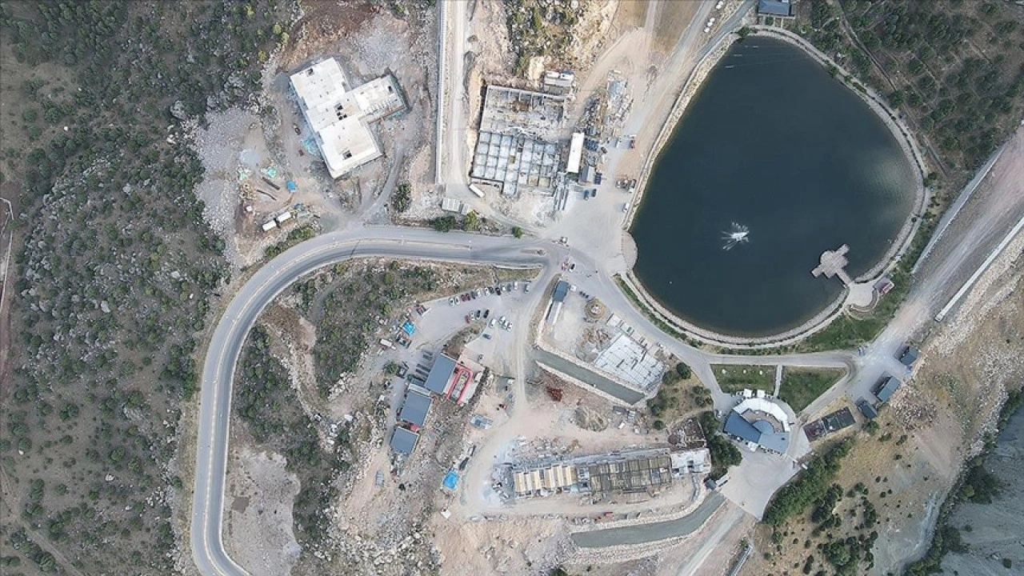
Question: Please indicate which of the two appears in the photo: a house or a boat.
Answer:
house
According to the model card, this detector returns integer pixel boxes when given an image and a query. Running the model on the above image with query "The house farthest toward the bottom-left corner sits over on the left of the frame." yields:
[389,427,419,454]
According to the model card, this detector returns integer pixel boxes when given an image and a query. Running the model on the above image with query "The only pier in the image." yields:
[811,244,853,287]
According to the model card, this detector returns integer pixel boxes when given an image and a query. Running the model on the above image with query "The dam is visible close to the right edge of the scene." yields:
[914,134,1024,324]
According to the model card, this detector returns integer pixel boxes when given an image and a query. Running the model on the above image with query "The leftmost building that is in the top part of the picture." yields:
[290,58,409,178]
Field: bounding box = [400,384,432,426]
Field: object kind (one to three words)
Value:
house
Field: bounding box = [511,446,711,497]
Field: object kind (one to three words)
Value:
building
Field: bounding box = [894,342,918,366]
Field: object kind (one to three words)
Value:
building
